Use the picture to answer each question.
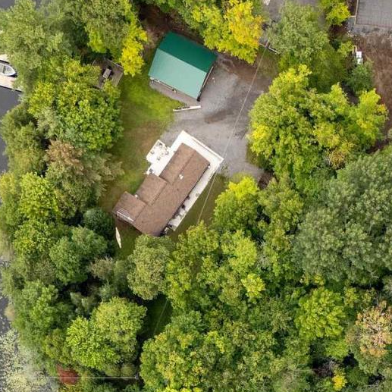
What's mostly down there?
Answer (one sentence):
What you mostly see from above here is trees.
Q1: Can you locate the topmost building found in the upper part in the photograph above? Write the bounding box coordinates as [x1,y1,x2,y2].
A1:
[148,32,219,104]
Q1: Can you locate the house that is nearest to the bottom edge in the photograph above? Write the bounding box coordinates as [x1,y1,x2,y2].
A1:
[115,143,212,242]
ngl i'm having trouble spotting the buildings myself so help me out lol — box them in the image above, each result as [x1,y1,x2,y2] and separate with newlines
[115,143,212,242]
[148,32,219,104]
